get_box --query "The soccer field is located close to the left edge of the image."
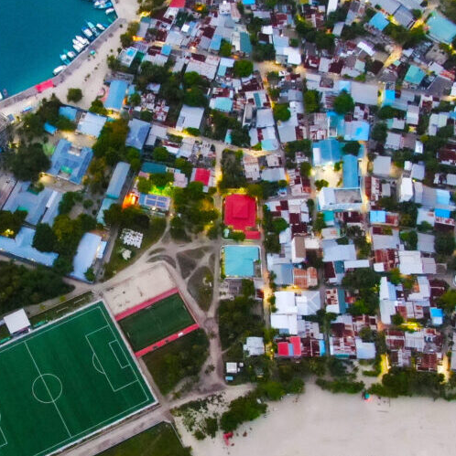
[0,301,158,456]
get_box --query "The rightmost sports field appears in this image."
[116,288,199,358]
